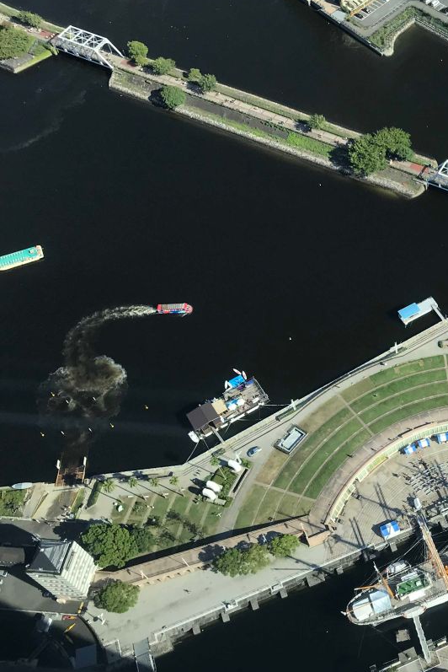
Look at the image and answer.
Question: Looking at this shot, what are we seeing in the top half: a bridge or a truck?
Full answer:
The one visible in the top half is a bridge.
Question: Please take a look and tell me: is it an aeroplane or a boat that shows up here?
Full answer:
The image shows a boat.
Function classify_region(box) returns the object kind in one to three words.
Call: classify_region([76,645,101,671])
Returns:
shed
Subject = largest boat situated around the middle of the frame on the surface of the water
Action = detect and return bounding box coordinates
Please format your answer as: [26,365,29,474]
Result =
[186,374,269,438]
